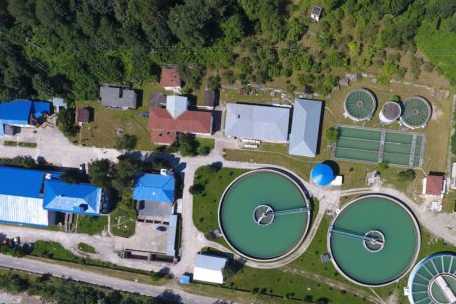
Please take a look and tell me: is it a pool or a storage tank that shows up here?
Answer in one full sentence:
It is a storage tank that can be seen here.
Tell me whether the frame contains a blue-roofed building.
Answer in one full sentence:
Yes, looking at the shot, I can spot a blue-roofed building.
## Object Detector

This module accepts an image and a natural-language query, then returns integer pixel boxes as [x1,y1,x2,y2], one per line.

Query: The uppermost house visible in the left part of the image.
[162,69,181,89]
